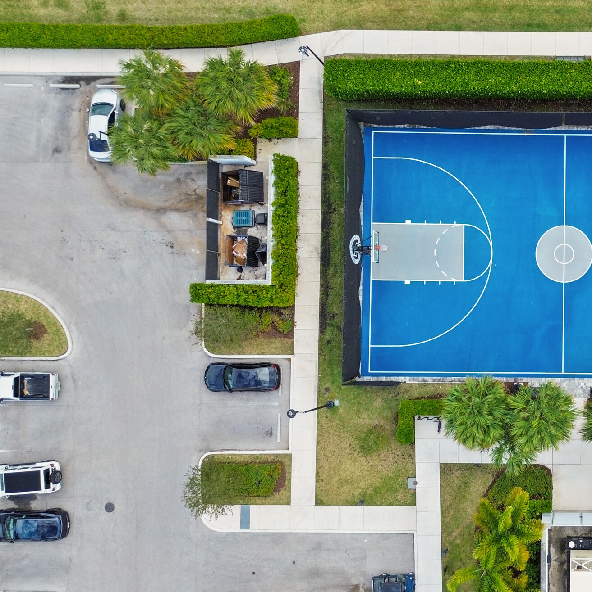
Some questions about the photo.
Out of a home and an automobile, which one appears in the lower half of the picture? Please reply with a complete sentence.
The one visible in the lower half of the picture is an automobile.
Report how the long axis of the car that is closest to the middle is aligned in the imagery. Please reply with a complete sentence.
The car that is closest to the middle has been laid out from side to side relative to the frame.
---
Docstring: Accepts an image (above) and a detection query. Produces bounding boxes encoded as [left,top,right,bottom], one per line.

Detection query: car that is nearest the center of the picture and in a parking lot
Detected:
[206,359,284,396]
